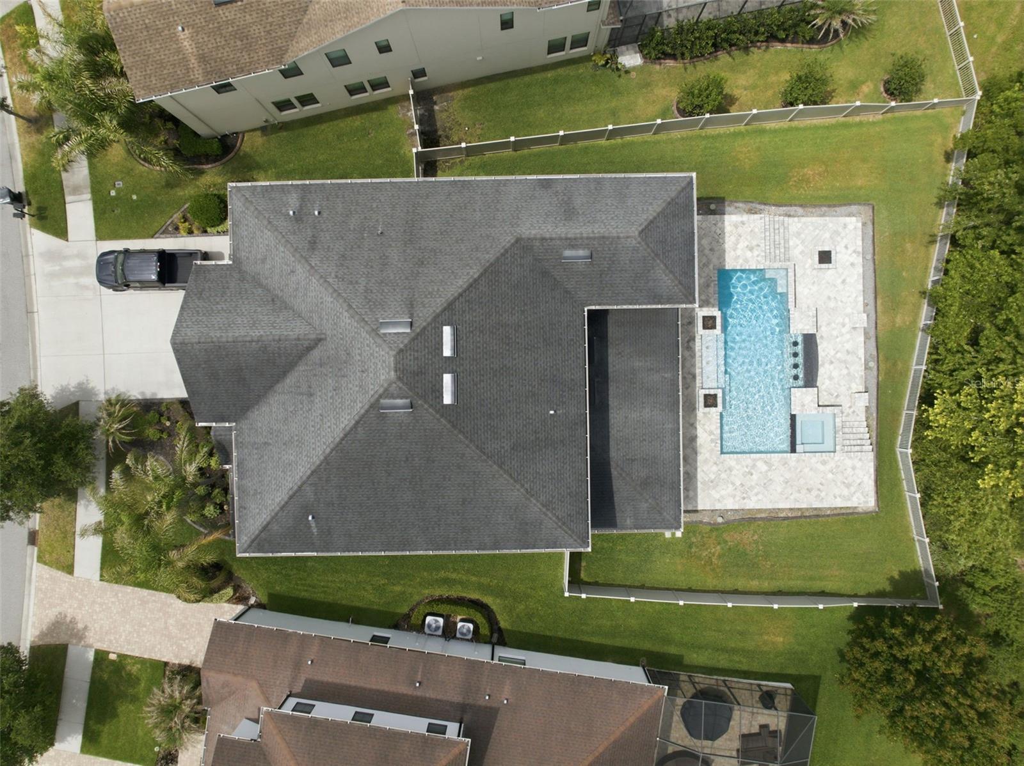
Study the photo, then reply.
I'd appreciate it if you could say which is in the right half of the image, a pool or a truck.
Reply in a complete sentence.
What appears in the right half of the image is a pool.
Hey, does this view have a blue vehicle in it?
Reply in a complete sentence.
No, I can see no blue vehicle in this picture.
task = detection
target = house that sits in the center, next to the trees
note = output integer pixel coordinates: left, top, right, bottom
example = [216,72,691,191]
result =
[171,173,697,556]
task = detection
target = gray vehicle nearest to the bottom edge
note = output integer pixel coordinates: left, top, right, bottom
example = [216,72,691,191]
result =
[95,244,213,292]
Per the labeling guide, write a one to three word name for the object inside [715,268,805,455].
swimming pool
